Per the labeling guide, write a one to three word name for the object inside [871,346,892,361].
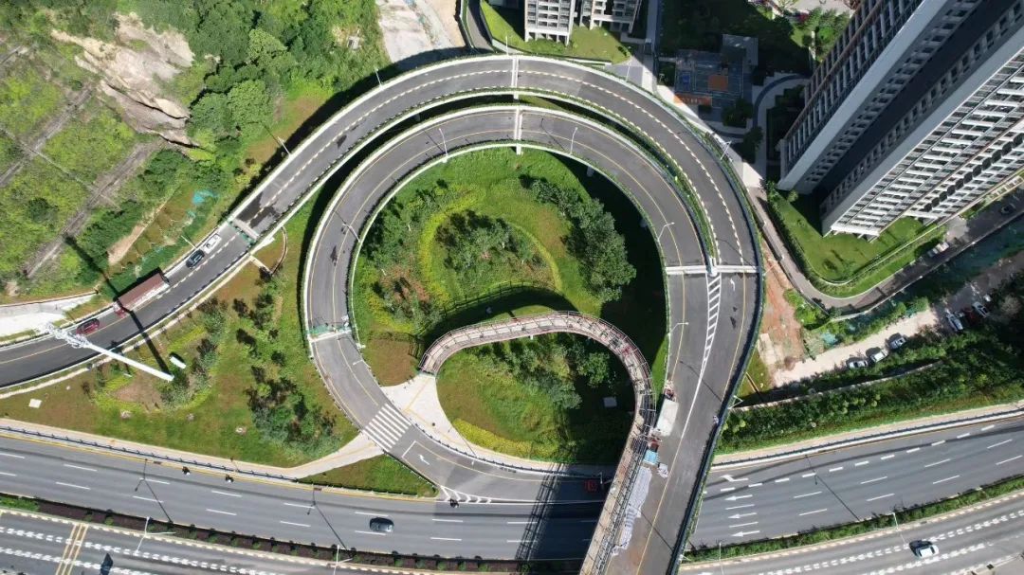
car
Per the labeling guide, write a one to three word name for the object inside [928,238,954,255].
vehicle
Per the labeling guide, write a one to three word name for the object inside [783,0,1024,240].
building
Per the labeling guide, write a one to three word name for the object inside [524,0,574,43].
building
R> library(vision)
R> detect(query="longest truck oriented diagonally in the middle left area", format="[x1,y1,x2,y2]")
[108,273,166,318]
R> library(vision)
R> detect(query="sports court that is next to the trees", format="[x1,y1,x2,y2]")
[673,55,747,111]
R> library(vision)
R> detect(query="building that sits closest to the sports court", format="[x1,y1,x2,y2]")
[725,26,762,60]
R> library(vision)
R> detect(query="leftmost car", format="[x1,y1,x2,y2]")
[75,317,98,332]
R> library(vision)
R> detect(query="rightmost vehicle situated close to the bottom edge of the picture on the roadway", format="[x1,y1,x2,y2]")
[914,542,939,556]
